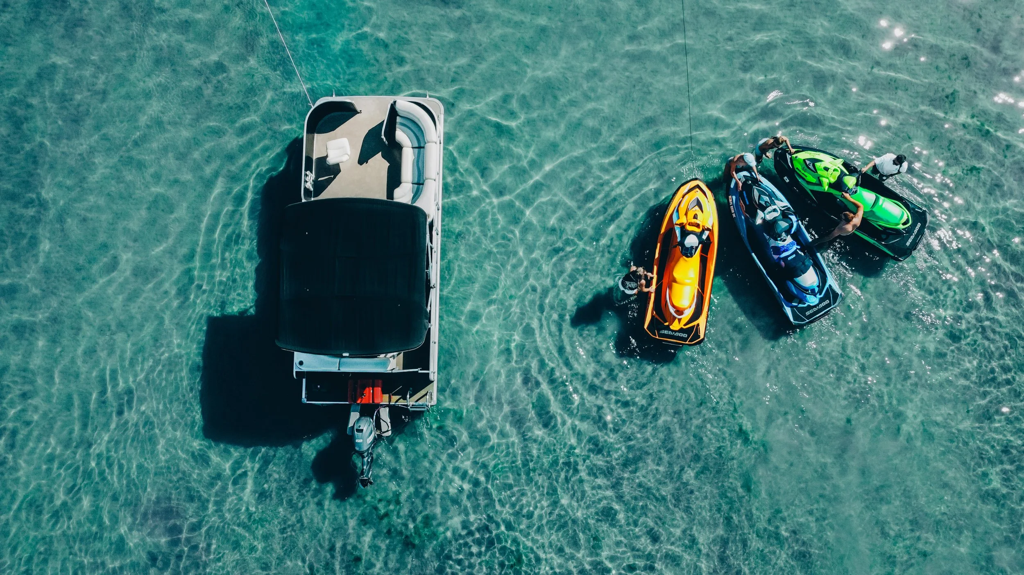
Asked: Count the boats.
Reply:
4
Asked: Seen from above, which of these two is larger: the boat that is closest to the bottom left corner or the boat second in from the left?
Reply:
the boat that is closest to the bottom left corner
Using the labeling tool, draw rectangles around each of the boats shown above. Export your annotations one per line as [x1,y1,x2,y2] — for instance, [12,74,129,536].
[276,89,445,487]
[643,178,718,347]
[727,168,838,326]
[774,141,925,262]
